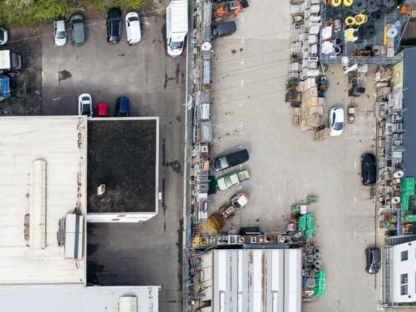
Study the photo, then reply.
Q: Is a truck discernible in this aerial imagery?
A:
Yes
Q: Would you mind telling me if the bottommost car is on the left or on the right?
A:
right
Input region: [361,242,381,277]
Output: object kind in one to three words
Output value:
car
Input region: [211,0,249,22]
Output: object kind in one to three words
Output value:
work vehicle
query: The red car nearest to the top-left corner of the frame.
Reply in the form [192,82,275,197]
[93,98,108,117]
